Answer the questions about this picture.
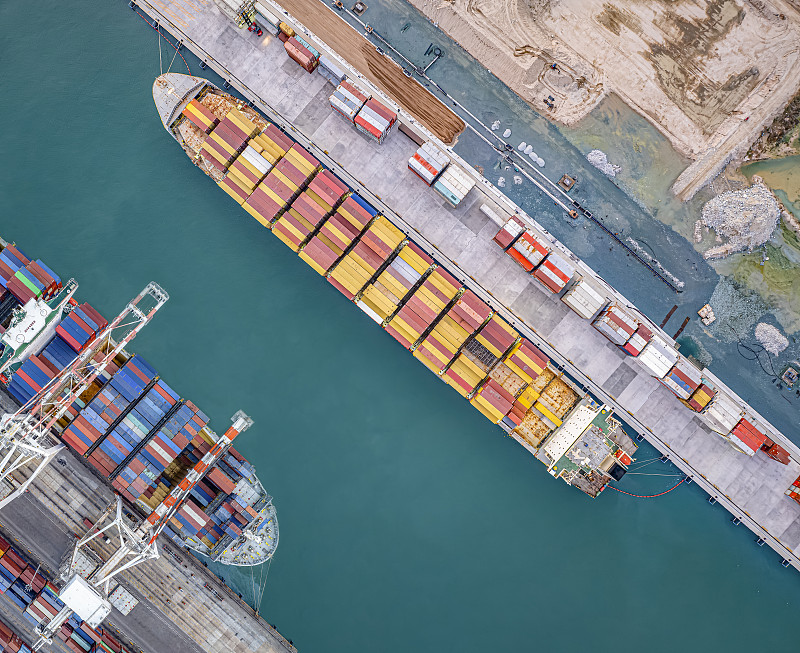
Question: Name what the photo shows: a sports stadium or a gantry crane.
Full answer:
The one in the frame is a gantry crane.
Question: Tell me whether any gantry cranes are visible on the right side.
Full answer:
No, there is no gantry crane on the right side.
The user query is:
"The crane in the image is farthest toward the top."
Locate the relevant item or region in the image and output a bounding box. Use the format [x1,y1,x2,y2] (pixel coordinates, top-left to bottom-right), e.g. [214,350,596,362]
[0,280,171,506]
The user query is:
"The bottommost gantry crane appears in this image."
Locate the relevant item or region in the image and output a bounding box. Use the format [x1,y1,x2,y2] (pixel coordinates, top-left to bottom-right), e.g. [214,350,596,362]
[12,401,248,653]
